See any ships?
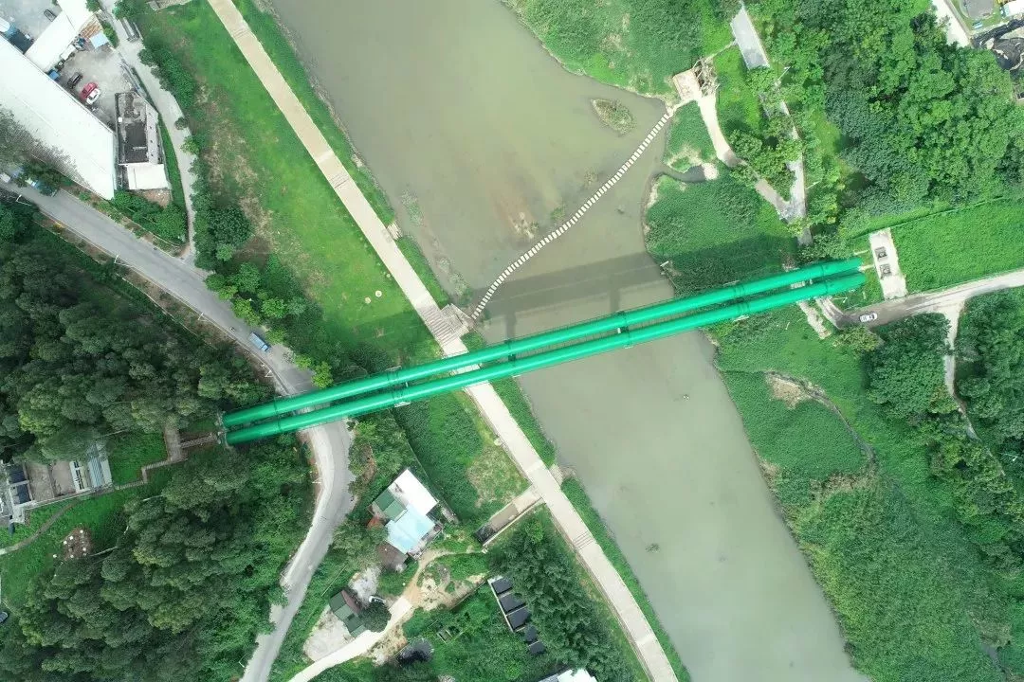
No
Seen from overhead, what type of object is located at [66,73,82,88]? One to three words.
car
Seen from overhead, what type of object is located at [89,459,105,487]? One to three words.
shed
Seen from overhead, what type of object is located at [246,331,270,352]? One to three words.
truck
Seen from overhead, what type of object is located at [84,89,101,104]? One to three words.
car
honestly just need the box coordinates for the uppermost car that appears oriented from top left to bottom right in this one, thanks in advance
[40,6,56,22]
